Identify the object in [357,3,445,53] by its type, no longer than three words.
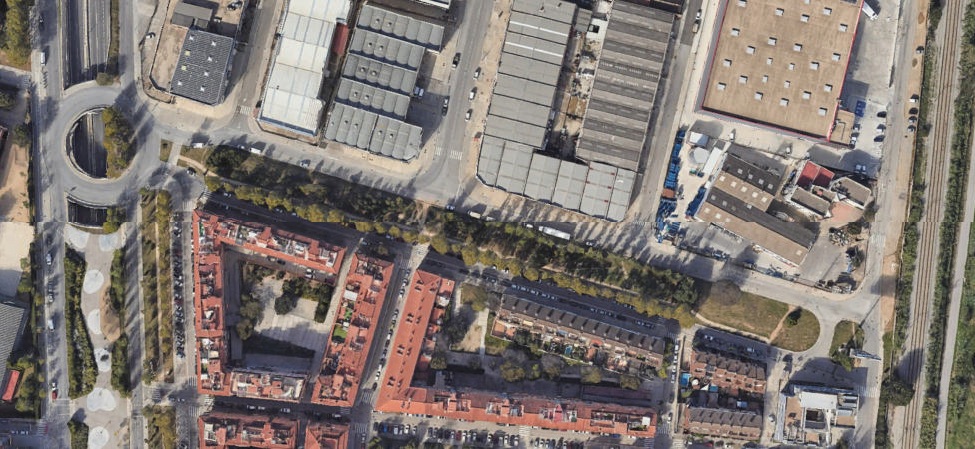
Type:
shed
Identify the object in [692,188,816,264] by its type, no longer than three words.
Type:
building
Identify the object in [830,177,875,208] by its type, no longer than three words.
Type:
house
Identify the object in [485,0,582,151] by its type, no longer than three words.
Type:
building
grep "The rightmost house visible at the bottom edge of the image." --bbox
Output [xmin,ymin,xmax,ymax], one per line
[771,381,859,447]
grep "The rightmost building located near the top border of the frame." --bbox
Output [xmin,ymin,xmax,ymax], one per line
[694,0,865,147]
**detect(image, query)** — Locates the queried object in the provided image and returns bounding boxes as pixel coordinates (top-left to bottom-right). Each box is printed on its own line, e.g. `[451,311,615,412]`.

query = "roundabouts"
[41,71,161,225]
